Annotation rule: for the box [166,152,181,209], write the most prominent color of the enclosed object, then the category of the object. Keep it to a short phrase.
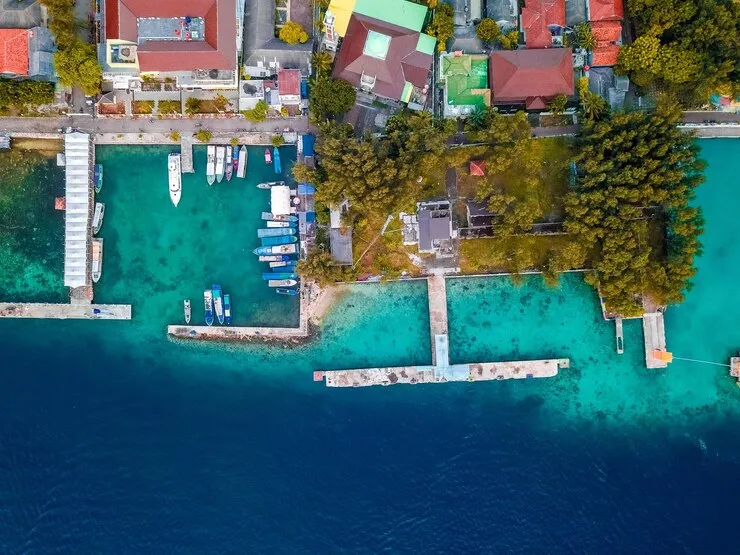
white boat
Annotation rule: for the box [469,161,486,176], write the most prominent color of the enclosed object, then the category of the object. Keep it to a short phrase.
red gazebo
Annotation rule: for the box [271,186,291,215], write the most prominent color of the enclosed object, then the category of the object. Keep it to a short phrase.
white vessel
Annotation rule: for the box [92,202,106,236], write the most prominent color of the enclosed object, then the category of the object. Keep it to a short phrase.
white boat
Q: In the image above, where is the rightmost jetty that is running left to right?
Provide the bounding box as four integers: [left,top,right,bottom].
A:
[325,357,559,389]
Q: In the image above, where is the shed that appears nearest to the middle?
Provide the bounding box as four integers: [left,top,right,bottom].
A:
[330,229,353,265]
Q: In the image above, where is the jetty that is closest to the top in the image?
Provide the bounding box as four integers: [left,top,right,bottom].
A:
[181,143,197,173]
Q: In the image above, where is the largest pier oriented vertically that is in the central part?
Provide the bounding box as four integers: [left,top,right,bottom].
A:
[428,277,449,367]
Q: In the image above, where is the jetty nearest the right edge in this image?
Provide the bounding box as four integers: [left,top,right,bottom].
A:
[641,313,668,369]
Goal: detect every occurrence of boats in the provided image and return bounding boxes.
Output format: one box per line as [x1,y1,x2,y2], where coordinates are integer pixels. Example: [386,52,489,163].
[257,228,297,237]
[276,288,298,295]
[259,255,289,262]
[265,148,272,165]
[257,181,286,188]
[223,294,232,324]
[261,236,298,246]
[203,289,215,325]
[225,146,233,182]
[166,152,181,209]
[275,147,281,176]
[269,260,299,267]
[215,146,225,184]
[269,280,297,288]
[236,145,248,179]
[92,238,103,283]
[251,242,298,254]
[233,145,239,173]
[262,272,297,280]
[262,212,298,222]
[272,266,298,273]
[212,283,225,325]
[92,202,106,236]
[205,145,215,186]
[183,298,191,324]
[267,220,298,228]
[94,164,103,194]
